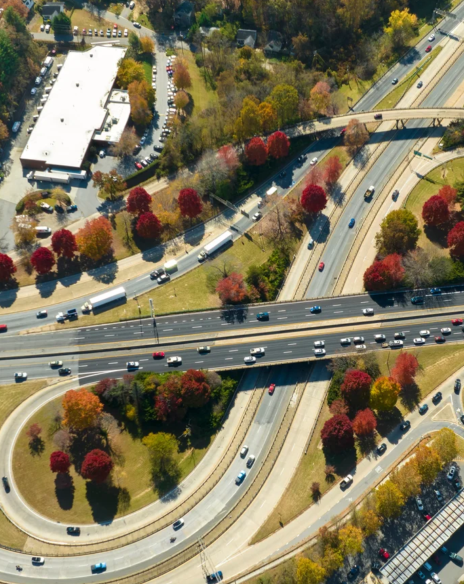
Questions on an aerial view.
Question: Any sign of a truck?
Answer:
Yes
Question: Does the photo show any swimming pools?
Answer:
No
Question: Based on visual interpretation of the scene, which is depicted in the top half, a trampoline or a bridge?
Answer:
bridge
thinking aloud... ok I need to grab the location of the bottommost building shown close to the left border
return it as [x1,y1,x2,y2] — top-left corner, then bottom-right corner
[20,46,131,171]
